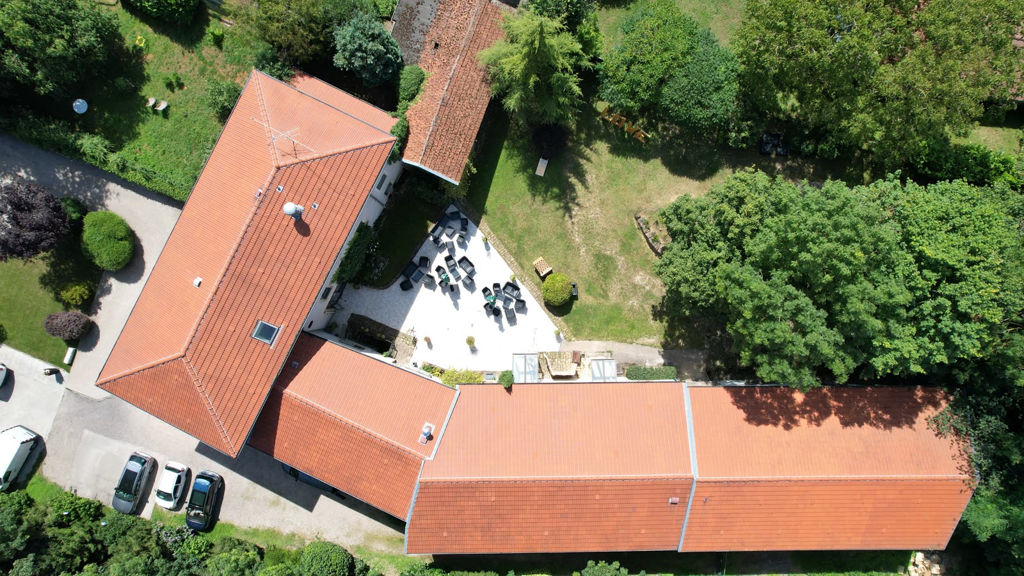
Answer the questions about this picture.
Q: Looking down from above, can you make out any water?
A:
No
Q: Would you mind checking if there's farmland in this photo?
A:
No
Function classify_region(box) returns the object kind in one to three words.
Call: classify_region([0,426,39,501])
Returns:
van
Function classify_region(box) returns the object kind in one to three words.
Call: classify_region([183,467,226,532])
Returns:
car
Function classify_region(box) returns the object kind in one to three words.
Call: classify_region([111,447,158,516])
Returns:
car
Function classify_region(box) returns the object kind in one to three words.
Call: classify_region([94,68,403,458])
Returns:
house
